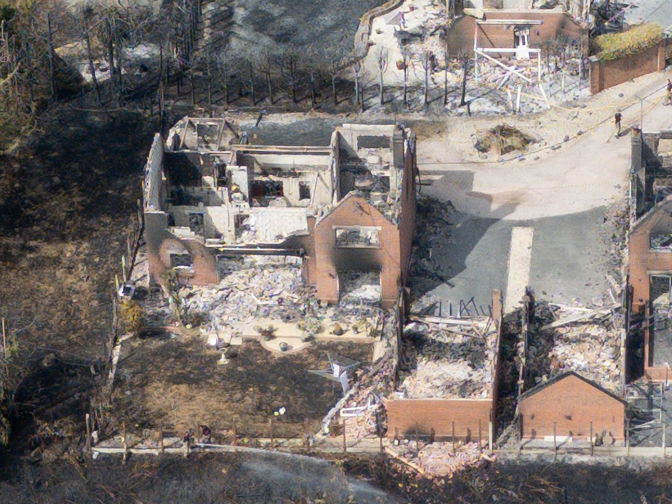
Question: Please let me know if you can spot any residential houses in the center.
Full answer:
Yes, a residential house shows up in the center.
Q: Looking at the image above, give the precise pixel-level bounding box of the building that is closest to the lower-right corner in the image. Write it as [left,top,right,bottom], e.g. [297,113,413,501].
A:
[516,274,629,444]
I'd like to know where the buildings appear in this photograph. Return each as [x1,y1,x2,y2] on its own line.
[139,116,417,303]
[447,0,591,60]
[624,79,672,310]
[386,276,497,437]
[516,274,629,444]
